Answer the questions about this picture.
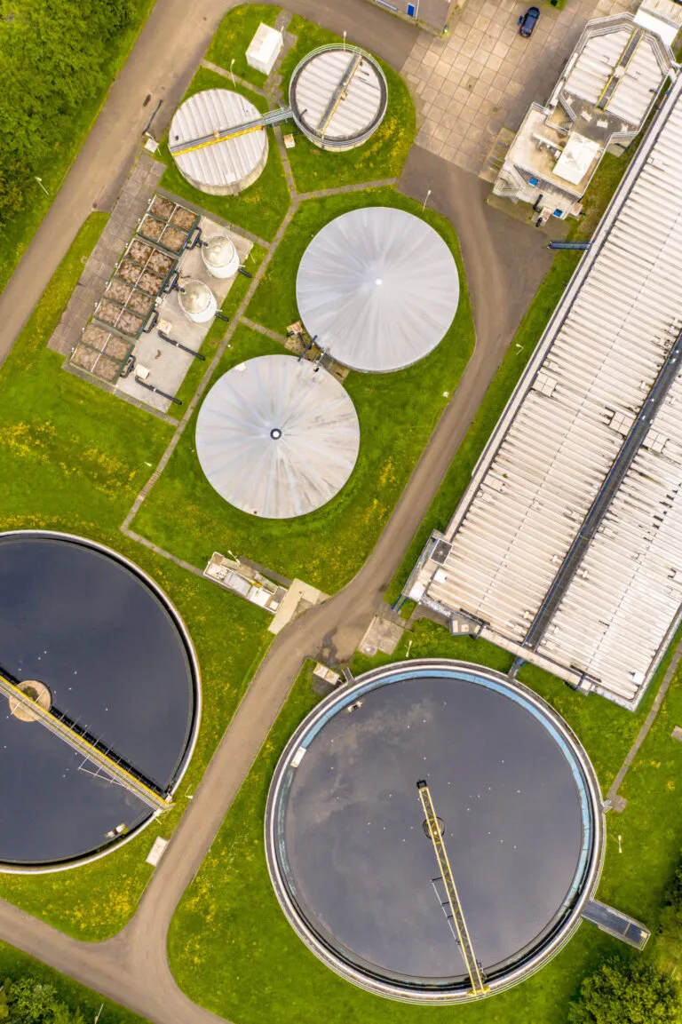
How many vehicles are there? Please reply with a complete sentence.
Altogether the scene contains 1 vehicle.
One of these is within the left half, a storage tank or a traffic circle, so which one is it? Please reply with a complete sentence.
The one visible within the left half is a storage tank.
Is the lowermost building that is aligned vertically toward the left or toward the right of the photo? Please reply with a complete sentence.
You can find the lowermost building that is aligned vertically on the right side of the picture.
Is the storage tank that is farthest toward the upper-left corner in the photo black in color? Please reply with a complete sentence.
No, the storage tank that is farthest toward the upper-left corner is actually white.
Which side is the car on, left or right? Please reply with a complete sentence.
You can find the car on the right side of the picture.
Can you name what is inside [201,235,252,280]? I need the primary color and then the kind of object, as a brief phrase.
white storage tank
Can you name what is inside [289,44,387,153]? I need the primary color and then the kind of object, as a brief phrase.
white storage tank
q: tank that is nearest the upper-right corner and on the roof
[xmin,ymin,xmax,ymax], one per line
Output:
[547,12,674,151]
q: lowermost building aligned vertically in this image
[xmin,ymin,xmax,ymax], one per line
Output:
[401,58,682,714]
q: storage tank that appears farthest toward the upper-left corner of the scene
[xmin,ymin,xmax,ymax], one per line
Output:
[166,88,268,195]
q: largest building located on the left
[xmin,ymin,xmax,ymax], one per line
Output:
[246,23,285,77]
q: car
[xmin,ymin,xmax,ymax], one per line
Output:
[517,6,539,40]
